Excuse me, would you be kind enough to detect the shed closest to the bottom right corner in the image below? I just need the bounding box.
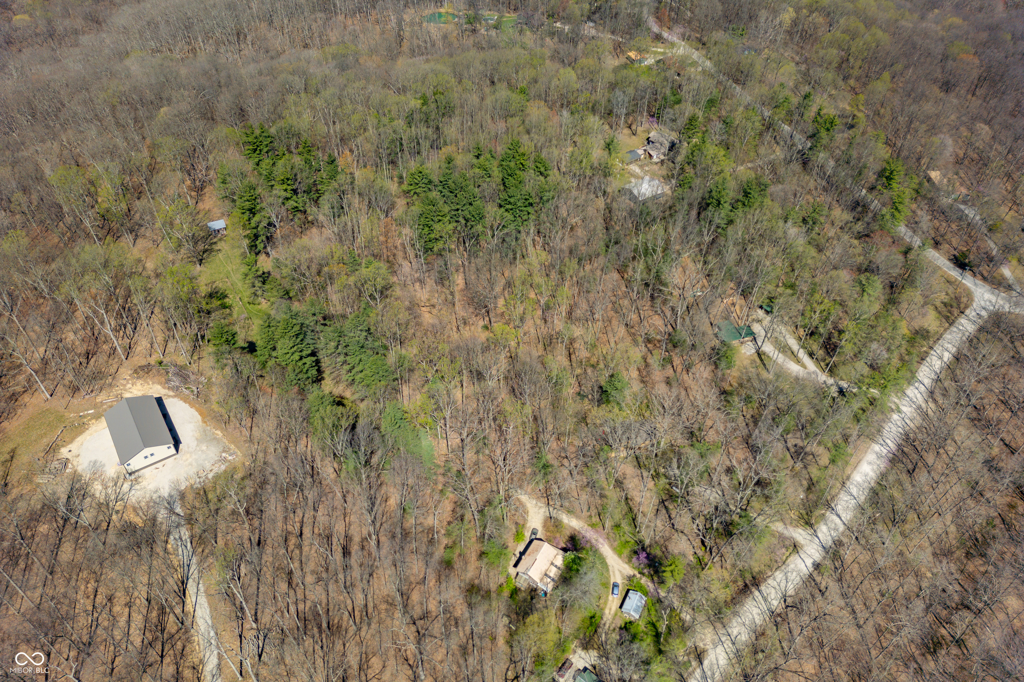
[622,590,646,620]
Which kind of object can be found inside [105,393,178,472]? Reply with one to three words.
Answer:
barn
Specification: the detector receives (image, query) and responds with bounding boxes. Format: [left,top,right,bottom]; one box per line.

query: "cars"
[528,527,540,542]
[611,581,620,599]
